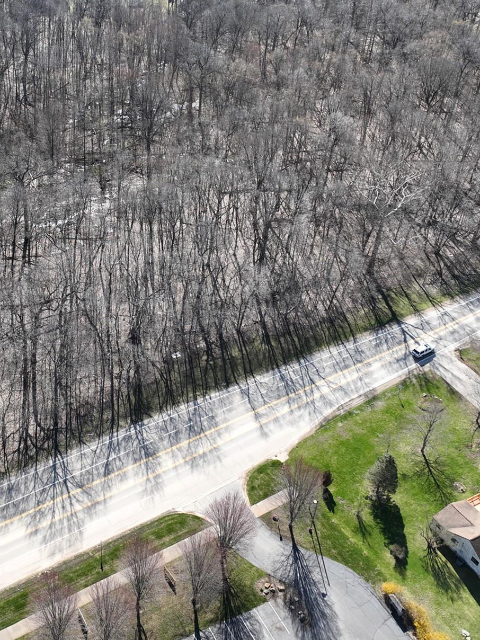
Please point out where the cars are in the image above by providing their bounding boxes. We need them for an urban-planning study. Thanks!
[411,345,438,361]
